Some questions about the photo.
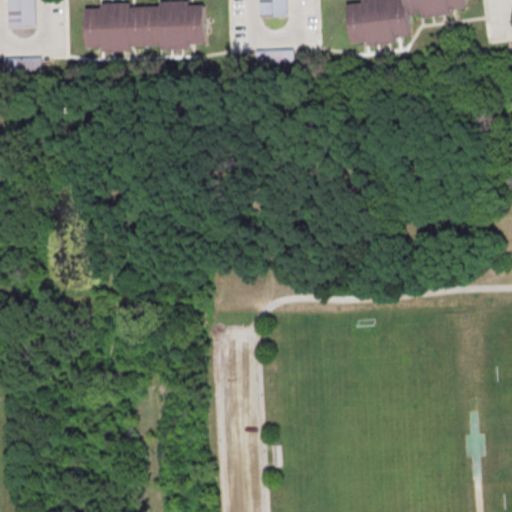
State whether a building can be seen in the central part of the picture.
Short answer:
No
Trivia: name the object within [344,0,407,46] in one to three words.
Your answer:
building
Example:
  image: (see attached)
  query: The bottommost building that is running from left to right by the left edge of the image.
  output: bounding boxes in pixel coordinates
[4,56,42,71]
